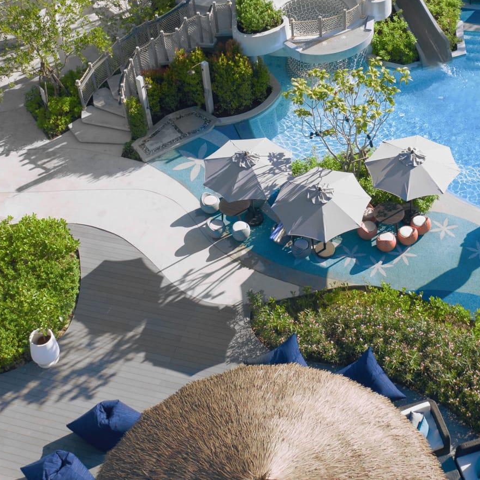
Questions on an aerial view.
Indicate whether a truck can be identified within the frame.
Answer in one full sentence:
No, the frame has no truck in it.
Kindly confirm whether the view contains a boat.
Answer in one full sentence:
No, there appears to be no boat in this shot.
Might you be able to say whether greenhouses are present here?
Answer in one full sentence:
No, the picture doesn't show any greenhouse.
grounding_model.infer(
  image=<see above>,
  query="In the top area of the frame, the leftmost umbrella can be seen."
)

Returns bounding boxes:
[197,135,301,229]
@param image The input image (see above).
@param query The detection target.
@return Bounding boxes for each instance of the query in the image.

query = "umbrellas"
[197,135,301,229]
[363,137,464,224]
[266,164,374,262]
[99,371,446,480]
